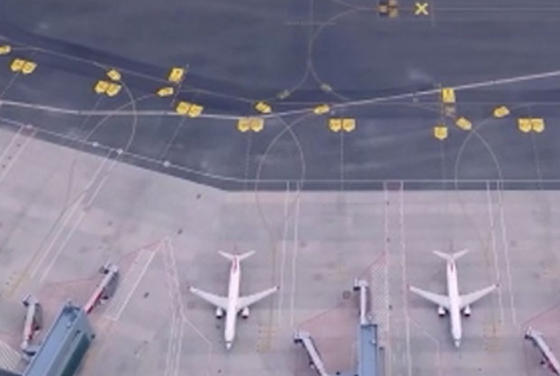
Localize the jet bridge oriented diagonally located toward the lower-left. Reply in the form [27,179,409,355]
[80,263,118,320]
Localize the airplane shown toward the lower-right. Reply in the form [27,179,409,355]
[408,247,499,348]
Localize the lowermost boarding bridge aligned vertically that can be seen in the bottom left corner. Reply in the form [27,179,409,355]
[20,299,44,356]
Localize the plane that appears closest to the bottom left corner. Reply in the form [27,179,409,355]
[187,250,278,350]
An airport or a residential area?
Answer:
airport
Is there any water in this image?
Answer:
No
